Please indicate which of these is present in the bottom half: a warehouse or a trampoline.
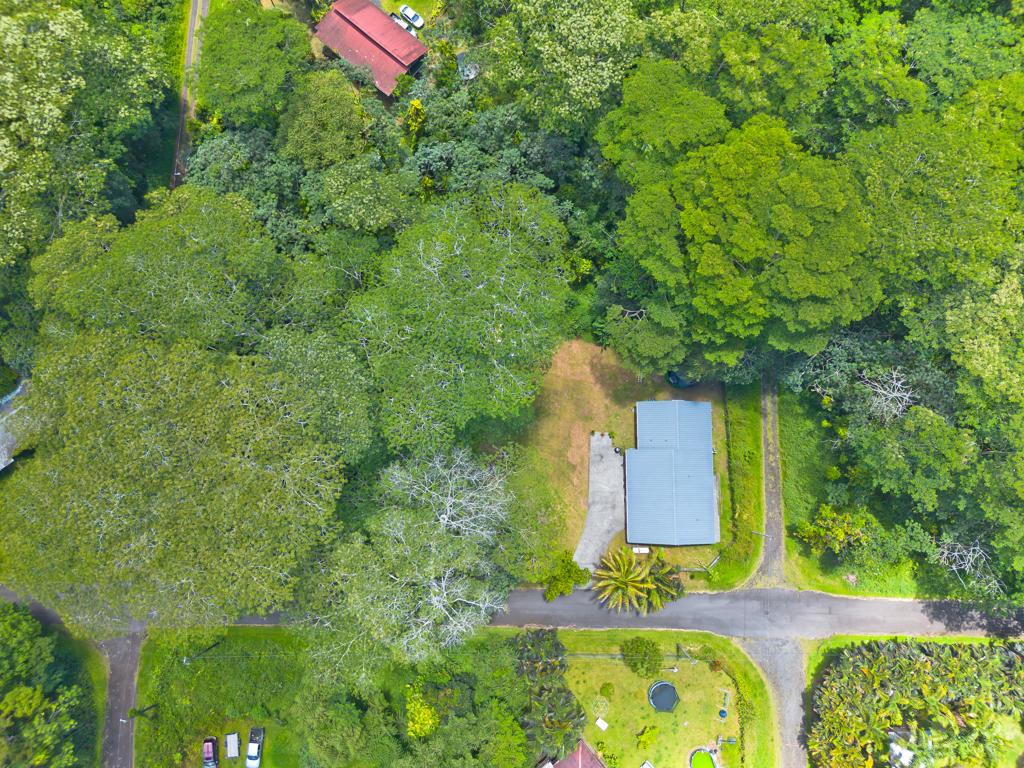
trampoline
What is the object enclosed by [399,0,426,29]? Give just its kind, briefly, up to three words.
car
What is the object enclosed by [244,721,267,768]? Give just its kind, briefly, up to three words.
truck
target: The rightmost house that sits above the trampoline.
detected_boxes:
[625,401,716,545]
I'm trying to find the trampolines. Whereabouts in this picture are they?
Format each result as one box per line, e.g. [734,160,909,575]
[650,681,684,721]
